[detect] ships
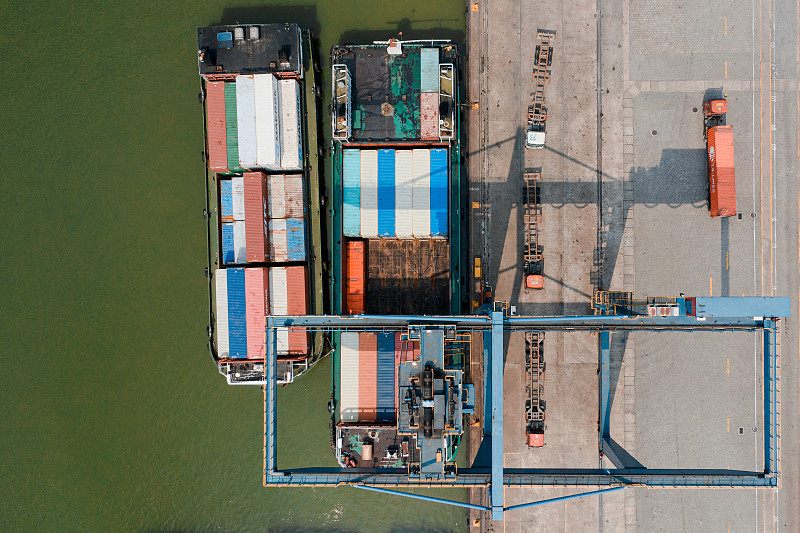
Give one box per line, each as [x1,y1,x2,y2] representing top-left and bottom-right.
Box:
[327,27,464,468]
[192,19,328,388]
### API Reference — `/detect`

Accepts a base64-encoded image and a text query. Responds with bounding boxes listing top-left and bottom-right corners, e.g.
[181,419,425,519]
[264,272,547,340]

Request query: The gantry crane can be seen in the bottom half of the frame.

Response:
[262,291,788,519]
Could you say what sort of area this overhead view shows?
port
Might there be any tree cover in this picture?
No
